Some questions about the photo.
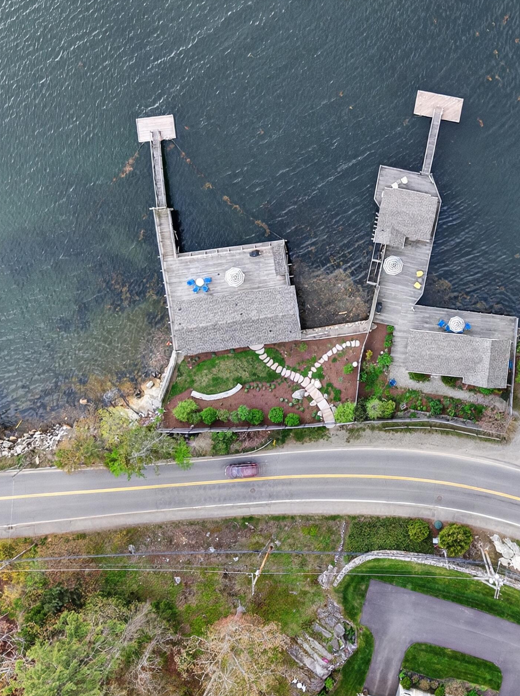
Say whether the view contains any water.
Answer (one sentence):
Yes, the picture does contain water.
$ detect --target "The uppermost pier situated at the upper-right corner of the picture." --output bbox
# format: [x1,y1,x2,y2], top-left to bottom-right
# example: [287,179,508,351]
[413,90,465,123]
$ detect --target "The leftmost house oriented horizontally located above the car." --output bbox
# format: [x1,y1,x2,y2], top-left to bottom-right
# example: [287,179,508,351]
[172,285,302,354]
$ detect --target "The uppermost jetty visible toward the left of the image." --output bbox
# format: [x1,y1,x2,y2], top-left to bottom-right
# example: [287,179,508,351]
[135,113,176,144]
